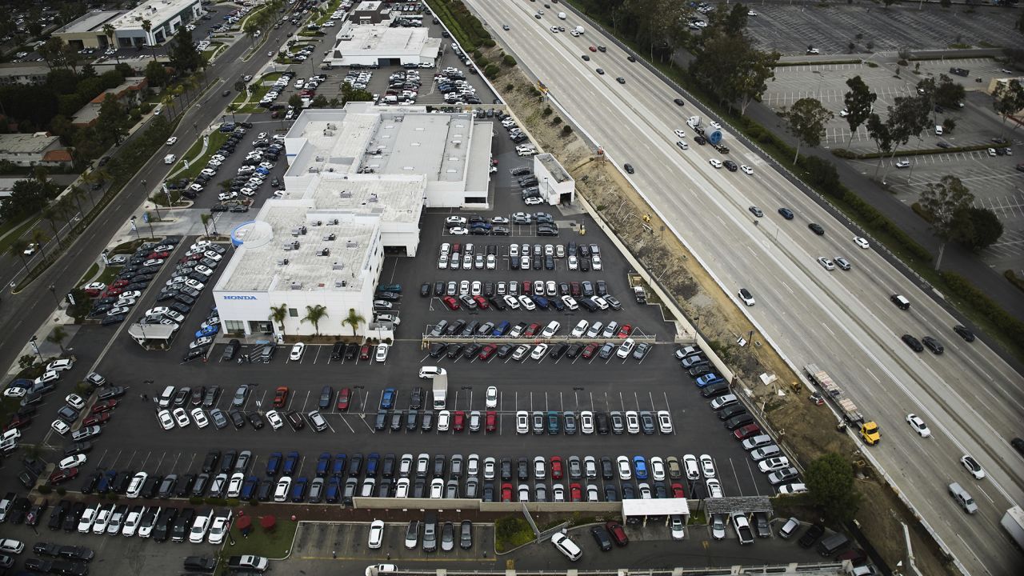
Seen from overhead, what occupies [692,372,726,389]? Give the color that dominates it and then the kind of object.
blue vehicle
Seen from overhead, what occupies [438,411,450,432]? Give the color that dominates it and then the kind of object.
white vehicle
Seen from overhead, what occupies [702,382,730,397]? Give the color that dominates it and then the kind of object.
black car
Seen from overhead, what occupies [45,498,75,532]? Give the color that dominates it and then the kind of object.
black truck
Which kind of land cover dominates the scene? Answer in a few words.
paved ground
